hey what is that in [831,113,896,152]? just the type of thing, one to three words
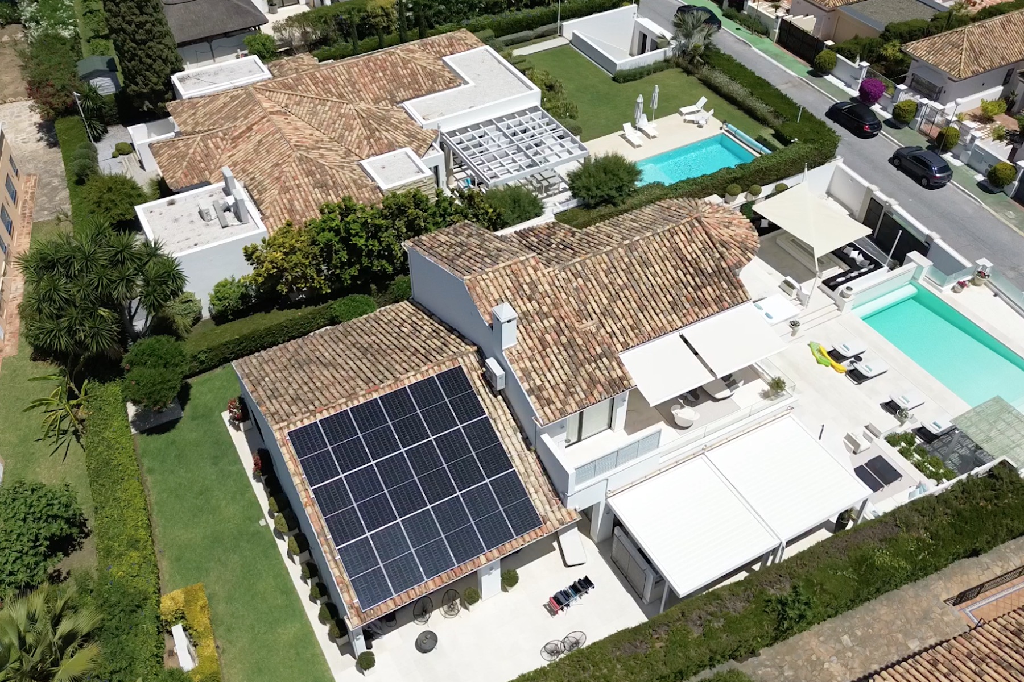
car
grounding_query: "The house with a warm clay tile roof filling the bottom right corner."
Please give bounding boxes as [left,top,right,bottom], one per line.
[873,585,1024,682]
